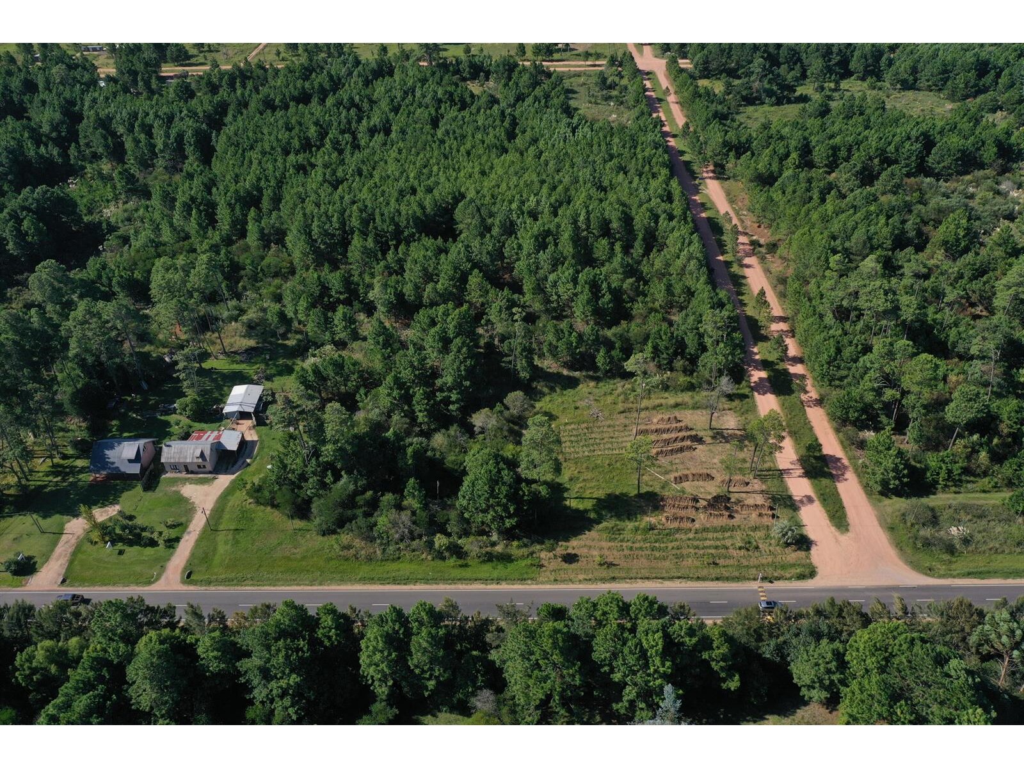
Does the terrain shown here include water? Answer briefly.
No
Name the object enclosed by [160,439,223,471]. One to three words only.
house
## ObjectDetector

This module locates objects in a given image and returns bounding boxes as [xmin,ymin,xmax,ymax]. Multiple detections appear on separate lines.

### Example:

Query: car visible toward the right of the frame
[755,600,783,613]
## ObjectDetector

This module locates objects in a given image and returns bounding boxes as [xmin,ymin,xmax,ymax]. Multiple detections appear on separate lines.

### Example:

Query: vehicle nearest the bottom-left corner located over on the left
[53,593,87,607]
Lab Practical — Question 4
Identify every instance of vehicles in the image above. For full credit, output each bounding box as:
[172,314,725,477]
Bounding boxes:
[53,593,87,607]
[755,600,783,613]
